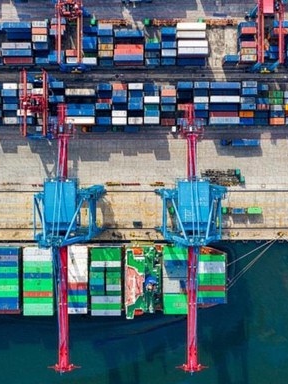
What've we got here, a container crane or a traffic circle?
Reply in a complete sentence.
The image shows a container crane.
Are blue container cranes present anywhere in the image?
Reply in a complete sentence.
Yes, a blue container crane is visible in the scene.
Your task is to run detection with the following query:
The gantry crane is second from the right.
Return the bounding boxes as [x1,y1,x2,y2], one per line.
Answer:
[151,104,222,378]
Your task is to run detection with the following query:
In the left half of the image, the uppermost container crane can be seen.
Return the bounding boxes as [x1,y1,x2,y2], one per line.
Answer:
[53,0,91,78]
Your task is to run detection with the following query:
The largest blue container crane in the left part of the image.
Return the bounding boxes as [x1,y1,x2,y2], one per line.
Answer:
[32,104,110,378]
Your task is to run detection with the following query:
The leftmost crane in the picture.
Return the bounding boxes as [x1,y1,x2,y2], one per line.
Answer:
[19,69,60,141]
